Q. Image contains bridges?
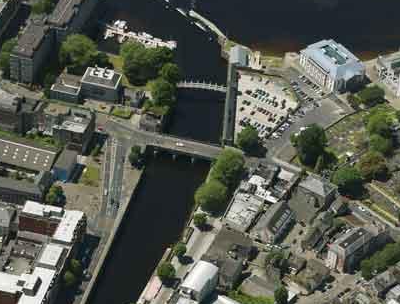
Yes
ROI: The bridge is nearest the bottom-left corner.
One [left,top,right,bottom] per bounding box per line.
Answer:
[141,137,219,172]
